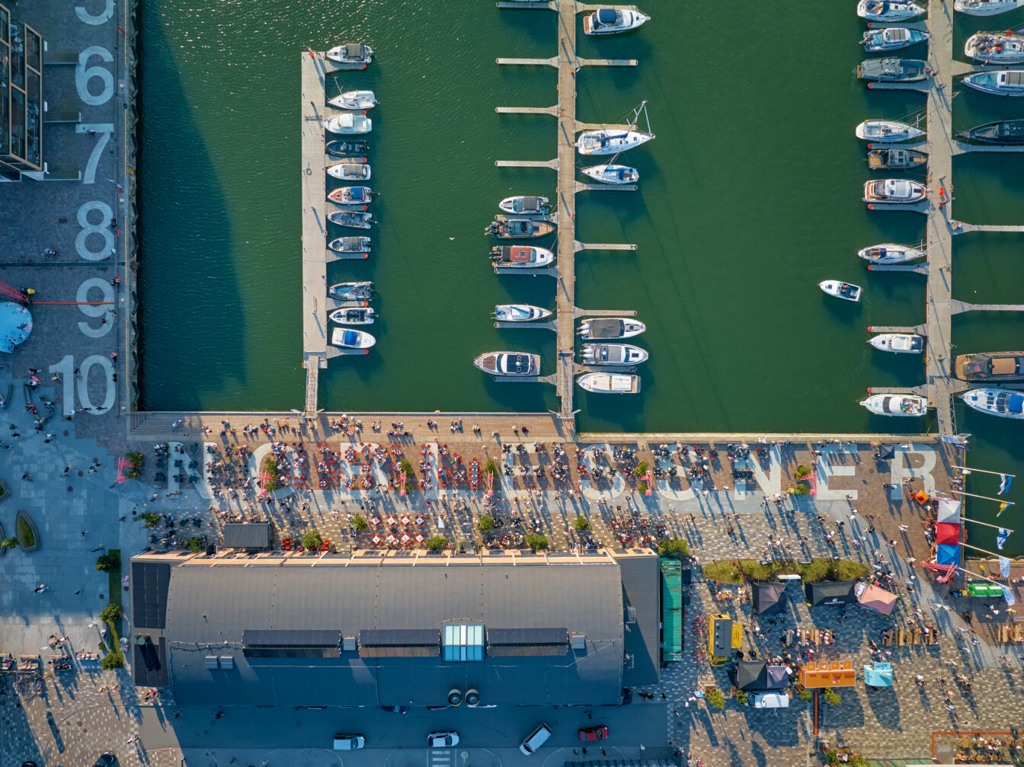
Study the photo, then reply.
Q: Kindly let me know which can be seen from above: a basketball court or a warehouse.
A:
warehouse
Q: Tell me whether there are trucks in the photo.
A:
Yes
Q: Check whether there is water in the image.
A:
Yes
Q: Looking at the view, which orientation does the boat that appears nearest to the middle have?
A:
from left to right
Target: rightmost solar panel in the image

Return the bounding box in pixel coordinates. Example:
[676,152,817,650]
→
[488,629,568,645]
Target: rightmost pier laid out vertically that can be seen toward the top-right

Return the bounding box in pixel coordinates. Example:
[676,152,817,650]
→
[866,0,1024,404]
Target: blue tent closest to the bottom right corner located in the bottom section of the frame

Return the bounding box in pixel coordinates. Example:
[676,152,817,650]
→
[931,542,959,565]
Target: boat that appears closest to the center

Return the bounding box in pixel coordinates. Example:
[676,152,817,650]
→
[474,351,541,376]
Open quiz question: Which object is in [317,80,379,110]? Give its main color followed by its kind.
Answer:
white boat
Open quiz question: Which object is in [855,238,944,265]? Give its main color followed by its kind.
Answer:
white boat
